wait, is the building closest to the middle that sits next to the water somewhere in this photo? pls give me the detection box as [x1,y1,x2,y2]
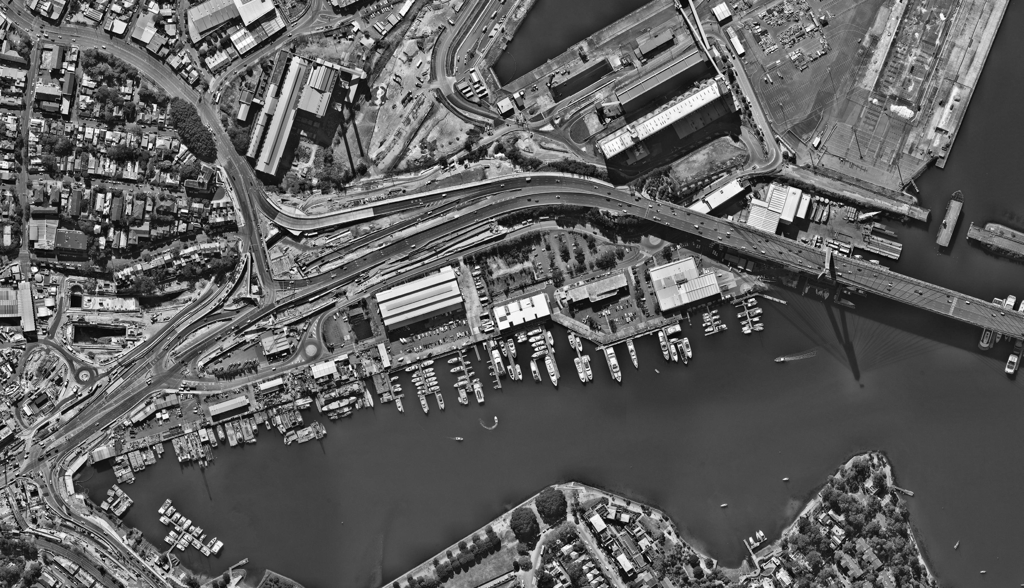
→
[493,292,551,330]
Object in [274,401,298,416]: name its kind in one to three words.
ship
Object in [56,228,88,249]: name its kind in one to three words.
building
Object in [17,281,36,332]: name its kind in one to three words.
shed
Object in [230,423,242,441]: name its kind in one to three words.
boat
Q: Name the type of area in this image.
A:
port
